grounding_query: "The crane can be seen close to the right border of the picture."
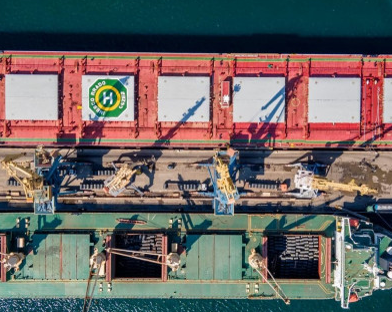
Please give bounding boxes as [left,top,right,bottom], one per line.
[280,162,380,196]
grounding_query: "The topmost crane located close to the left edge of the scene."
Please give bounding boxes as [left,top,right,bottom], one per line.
[0,150,75,213]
